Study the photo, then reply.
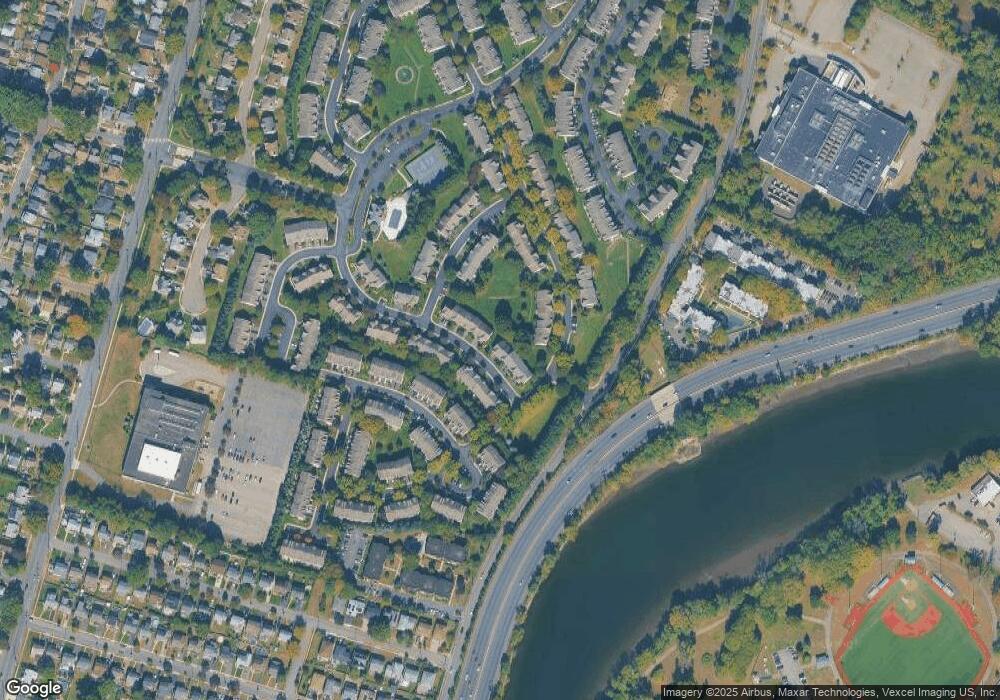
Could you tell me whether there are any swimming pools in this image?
Yes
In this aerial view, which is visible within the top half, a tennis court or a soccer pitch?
tennis court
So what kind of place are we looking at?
residential area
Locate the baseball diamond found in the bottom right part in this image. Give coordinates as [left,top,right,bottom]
[835,564,991,700]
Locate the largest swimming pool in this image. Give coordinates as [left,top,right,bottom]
[383,198,407,240]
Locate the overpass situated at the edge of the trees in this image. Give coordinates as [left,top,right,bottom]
[653,381,682,426]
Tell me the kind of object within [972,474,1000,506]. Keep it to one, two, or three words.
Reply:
building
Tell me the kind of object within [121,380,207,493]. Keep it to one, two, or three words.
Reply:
building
